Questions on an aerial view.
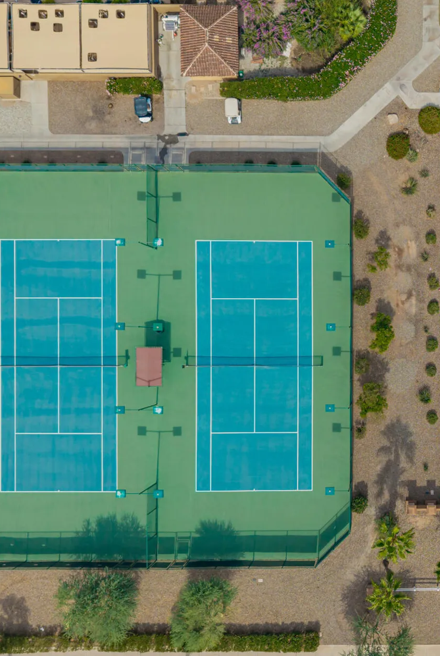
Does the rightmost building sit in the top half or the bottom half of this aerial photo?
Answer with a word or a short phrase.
top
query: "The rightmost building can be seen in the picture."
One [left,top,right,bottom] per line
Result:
[178,3,240,81]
